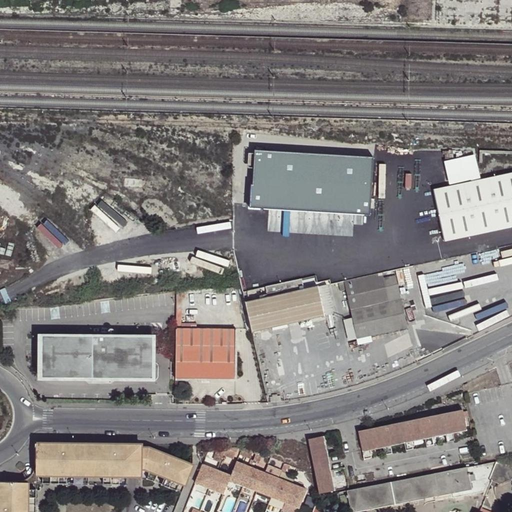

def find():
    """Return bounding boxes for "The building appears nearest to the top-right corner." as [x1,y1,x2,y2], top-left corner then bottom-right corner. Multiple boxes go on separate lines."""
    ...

[444,154,481,184]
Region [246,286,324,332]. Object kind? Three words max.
building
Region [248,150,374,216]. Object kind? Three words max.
building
